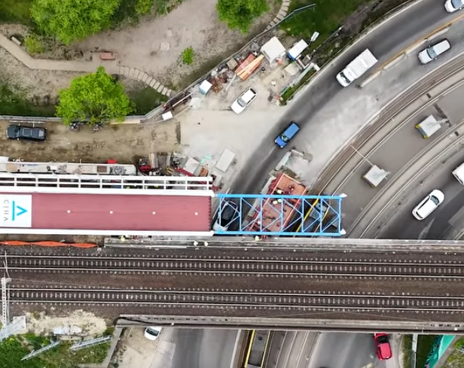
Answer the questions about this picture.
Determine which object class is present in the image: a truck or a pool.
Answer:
truck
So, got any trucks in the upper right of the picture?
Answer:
Yes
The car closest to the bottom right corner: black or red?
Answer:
red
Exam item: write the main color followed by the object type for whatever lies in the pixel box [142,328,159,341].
white vehicle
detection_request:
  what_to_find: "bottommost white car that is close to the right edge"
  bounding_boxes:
[410,191,443,220]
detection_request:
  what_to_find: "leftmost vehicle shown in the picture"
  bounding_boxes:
[6,125,47,142]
